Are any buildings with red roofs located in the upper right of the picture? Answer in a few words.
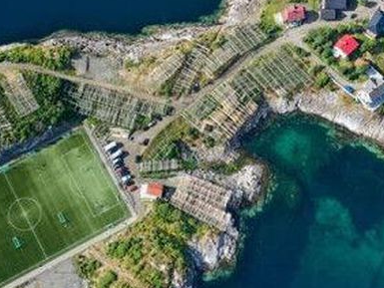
Yes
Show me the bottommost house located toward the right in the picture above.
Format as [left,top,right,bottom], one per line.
[357,66,384,114]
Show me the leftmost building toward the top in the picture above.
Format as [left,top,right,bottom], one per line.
[275,6,307,27]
